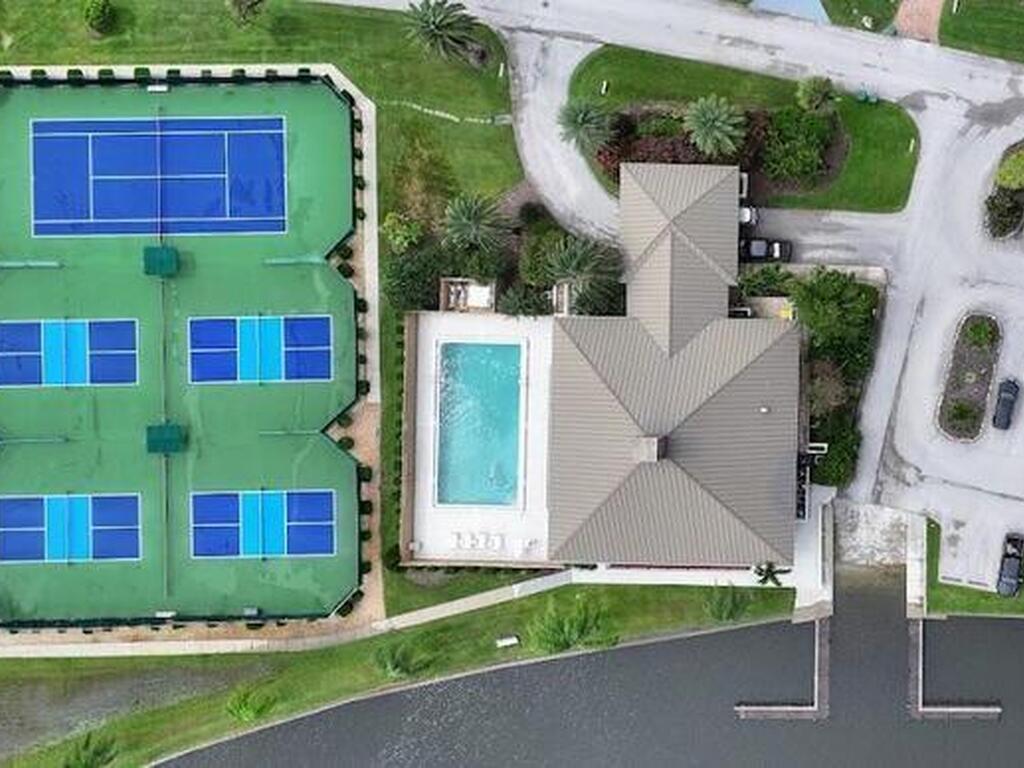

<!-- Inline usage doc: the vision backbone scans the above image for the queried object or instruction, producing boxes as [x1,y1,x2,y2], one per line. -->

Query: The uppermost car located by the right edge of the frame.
[992,378,1021,432]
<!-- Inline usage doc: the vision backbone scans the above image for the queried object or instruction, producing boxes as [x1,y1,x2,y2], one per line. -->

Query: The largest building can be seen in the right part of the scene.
[548,163,801,569]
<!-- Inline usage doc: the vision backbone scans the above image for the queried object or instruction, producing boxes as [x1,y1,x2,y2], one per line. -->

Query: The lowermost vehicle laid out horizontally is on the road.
[739,236,791,262]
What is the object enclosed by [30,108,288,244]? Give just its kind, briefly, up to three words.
tennis court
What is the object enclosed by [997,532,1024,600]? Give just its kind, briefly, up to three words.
truck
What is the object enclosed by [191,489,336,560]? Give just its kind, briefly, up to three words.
sports court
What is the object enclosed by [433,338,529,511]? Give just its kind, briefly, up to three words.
swimming pool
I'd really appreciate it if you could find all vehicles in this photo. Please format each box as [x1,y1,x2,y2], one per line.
[739,236,791,262]
[739,206,762,223]
[992,378,1021,432]
[997,532,1024,600]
